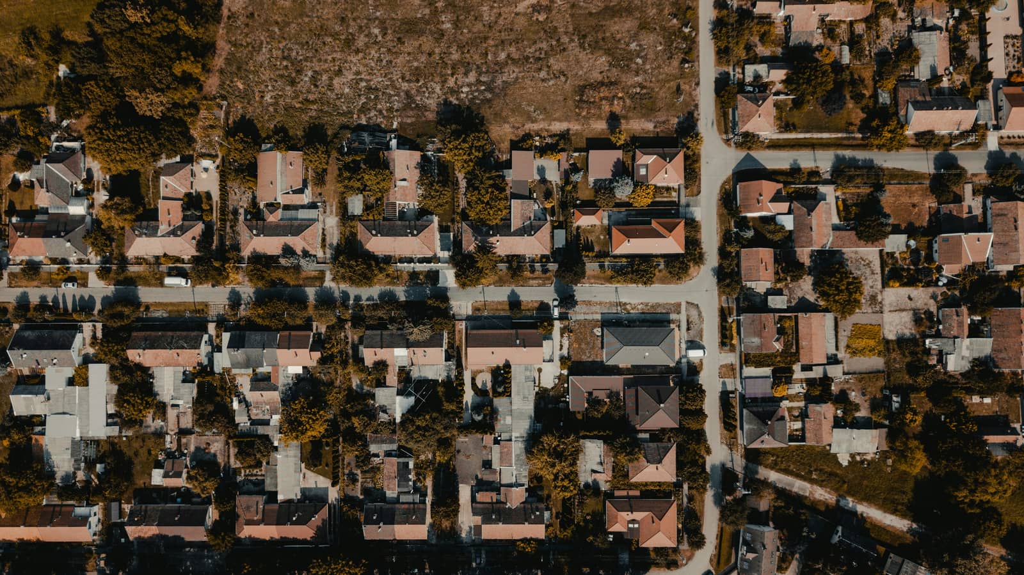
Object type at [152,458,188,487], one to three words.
shed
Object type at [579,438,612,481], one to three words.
building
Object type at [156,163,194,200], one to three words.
house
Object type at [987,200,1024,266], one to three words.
barn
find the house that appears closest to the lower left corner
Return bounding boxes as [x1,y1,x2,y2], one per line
[0,504,100,542]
